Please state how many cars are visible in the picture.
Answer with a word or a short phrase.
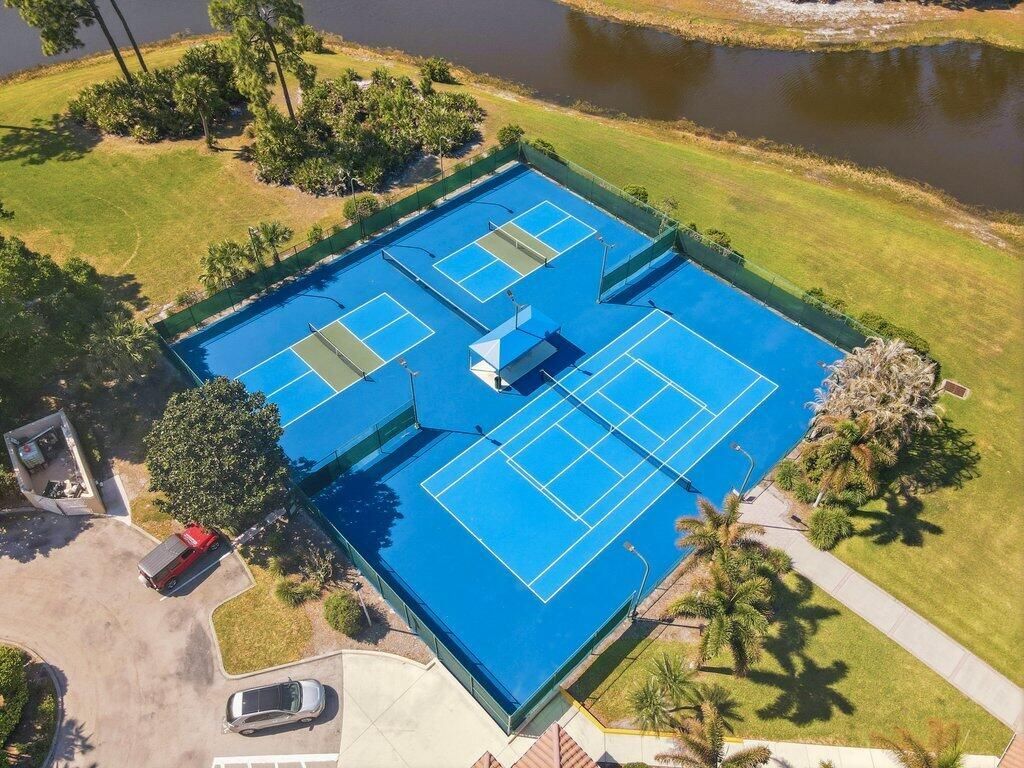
2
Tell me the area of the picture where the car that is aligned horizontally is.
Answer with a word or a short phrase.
bottom left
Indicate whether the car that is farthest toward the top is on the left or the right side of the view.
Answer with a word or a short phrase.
left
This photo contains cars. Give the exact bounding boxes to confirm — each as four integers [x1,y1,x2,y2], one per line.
[226,679,326,736]
[139,520,226,591]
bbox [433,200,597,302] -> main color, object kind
blue sports court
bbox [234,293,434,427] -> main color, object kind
blue sports court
